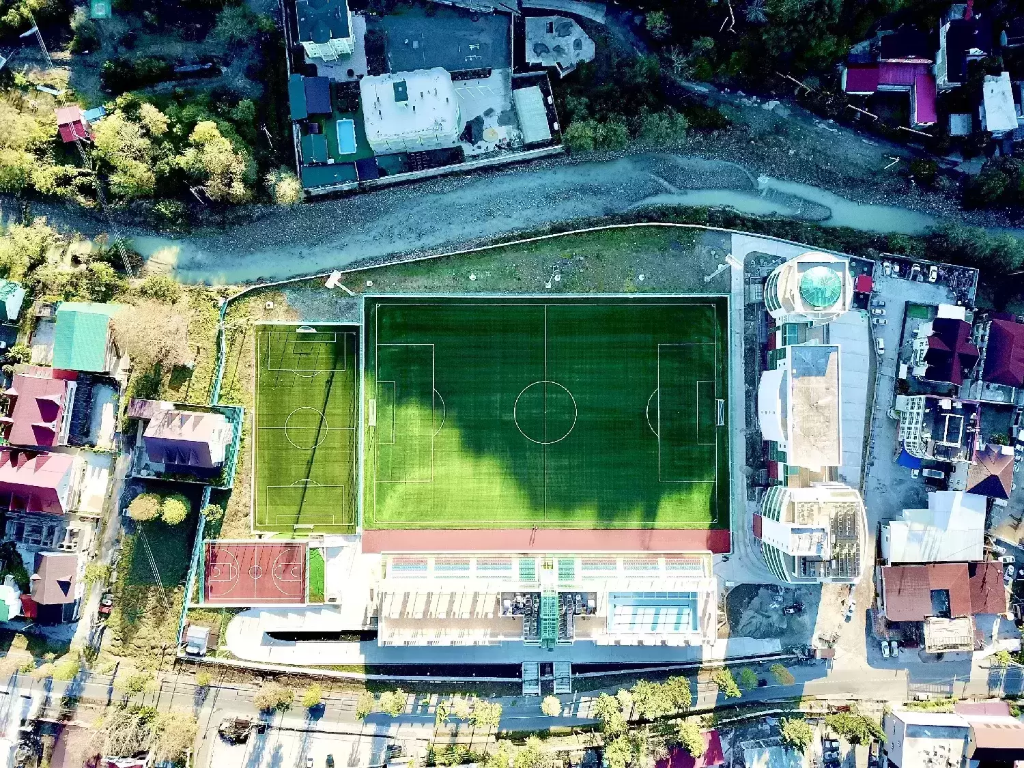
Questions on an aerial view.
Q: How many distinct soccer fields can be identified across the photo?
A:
2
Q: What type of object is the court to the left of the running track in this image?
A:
basketball court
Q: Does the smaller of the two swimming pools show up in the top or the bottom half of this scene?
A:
top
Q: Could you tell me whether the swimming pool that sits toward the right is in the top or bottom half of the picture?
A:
bottom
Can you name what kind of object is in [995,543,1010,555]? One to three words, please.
vehicle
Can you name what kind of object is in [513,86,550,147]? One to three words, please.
shed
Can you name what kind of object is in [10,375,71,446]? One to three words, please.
house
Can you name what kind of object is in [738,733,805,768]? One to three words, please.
building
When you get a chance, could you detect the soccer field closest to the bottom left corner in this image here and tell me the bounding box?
[253,324,360,533]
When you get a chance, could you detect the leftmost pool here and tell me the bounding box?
[336,119,357,154]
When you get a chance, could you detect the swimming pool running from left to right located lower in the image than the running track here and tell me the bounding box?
[608,592,698,634]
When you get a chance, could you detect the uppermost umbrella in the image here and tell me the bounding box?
[483,125,497,139]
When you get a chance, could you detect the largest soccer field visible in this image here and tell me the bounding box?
[362,297,730,529]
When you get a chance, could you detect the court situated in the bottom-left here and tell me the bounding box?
[203,543,306,604]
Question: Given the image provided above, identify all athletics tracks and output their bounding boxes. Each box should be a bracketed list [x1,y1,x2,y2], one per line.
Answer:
[362,530,730,552]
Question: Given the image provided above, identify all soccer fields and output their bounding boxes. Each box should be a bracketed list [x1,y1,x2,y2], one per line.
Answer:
[253,324,360,533]
[362,297,730,529]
